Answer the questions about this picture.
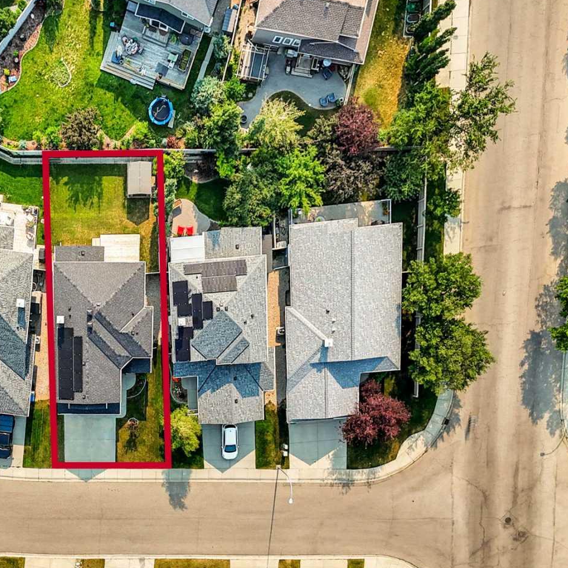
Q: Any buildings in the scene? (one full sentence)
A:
Yes, there is a building in the image.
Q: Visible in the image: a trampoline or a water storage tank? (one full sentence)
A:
There is a trampoline in the scene.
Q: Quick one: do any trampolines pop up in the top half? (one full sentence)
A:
Yes, a trampoline can be seen in the top half.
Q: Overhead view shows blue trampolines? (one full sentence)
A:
Yes, there's a blue trampoline down there.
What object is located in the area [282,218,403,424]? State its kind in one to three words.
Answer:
house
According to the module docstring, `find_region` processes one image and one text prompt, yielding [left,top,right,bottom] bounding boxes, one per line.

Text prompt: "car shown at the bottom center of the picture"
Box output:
[220,422,240,461]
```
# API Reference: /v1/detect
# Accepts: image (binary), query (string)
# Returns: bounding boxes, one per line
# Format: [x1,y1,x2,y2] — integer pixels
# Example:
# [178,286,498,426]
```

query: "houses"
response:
[53,245,154,416]
[0,223,36,417]
[251,0,378,66]
[122,0,218,36]
[167,226,276,424]
[282,218,403,424]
